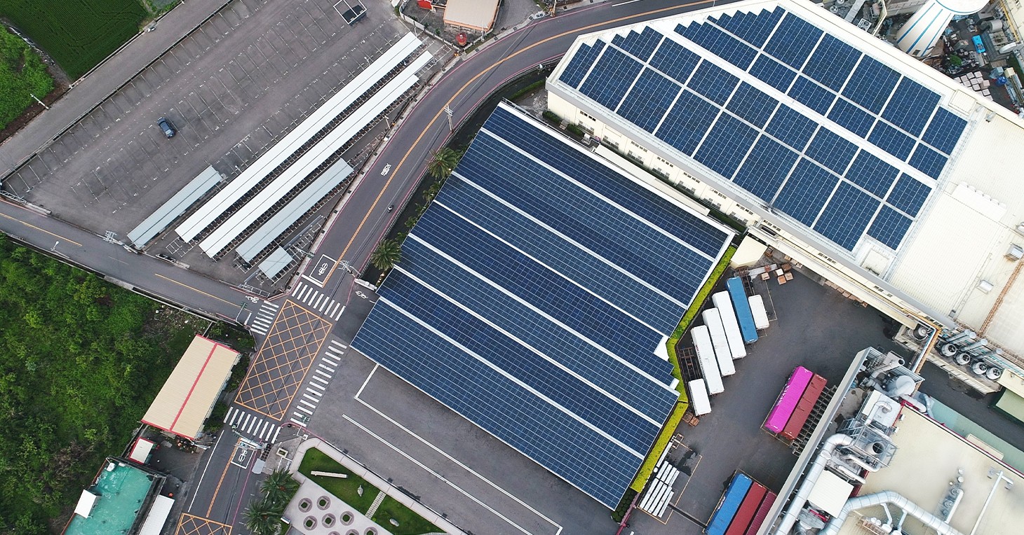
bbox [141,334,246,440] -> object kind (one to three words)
house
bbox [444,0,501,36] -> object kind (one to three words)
house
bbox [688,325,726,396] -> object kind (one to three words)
trailer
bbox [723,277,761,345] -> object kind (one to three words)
trailer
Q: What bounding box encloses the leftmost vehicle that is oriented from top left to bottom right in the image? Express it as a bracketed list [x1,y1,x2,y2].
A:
[156,116,174,137]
